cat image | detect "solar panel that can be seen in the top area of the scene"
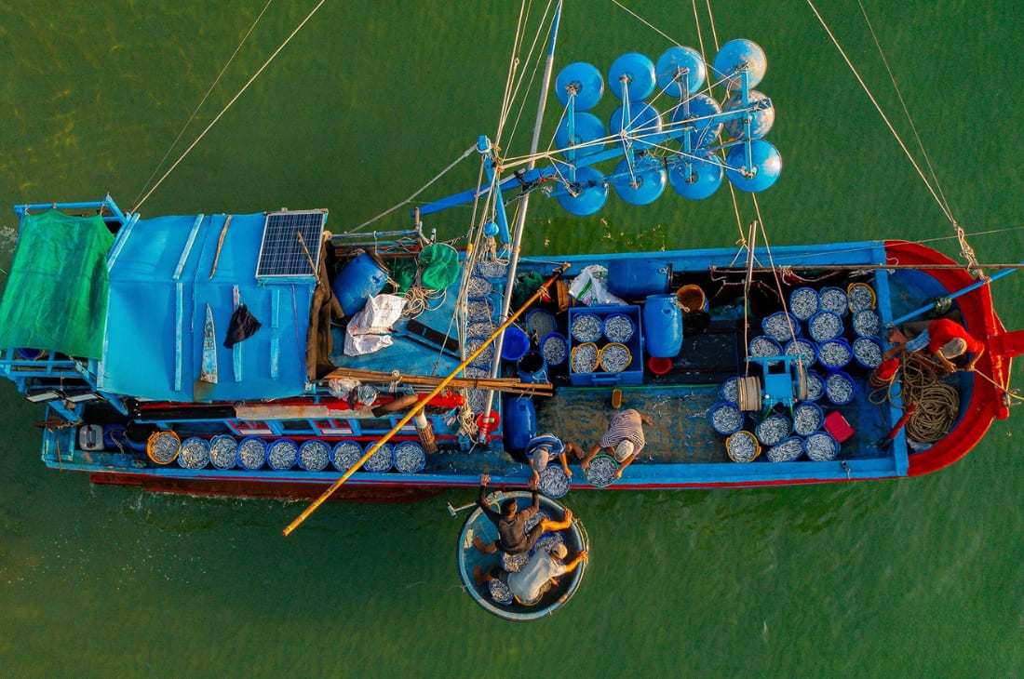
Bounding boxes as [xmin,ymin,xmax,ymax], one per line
[256,208,327,287]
